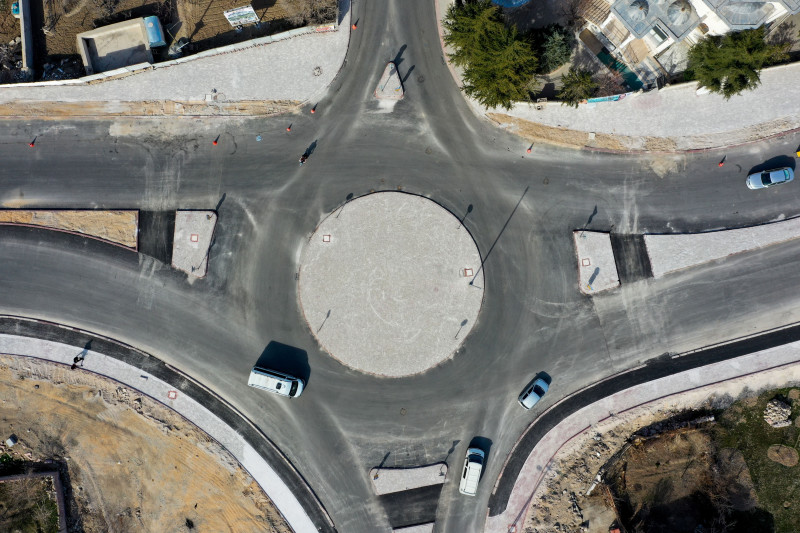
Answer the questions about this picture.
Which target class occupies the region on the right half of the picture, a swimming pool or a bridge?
swimming pool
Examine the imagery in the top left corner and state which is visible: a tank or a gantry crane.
tank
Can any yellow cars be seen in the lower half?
No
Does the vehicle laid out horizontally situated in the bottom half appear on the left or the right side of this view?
left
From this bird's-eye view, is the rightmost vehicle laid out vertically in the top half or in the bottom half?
bottom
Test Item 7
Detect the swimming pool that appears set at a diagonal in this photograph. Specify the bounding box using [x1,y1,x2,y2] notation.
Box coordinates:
[577,25,649,91]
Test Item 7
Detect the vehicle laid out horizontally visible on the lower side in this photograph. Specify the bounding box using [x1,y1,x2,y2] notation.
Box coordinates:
[249,366,305,399]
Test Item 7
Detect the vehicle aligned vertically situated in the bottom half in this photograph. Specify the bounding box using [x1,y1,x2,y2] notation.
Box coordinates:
[459,448,484,494]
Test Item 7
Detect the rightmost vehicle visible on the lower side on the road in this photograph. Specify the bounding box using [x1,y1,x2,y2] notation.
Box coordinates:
[517,377,549,410]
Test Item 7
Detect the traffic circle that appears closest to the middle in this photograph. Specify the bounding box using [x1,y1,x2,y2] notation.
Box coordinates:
[298,191,484,377]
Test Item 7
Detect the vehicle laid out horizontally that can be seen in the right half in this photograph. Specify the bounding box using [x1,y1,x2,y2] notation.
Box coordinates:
[745,166,795,191]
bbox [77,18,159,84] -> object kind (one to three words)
storage tank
